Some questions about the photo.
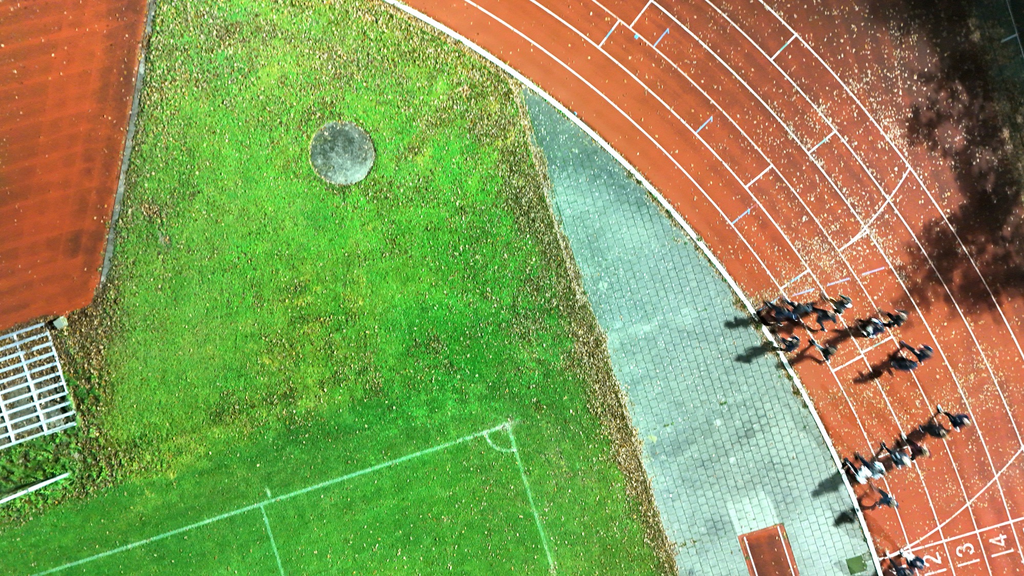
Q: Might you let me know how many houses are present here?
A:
none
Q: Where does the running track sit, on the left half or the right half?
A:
right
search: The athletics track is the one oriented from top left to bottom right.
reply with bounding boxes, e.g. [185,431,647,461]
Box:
[396,0,1024,576]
